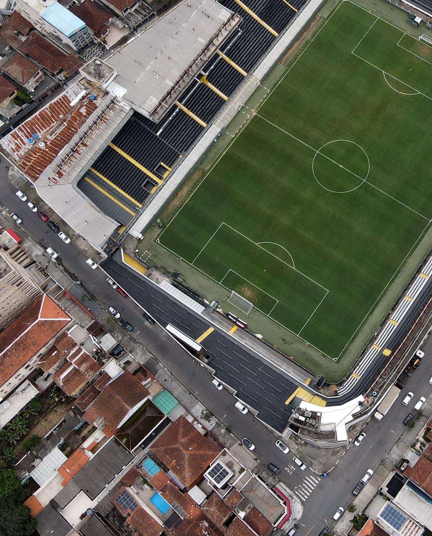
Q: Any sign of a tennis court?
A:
No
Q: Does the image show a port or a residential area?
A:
residential area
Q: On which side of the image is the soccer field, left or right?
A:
right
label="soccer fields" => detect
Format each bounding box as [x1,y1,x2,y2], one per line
[137,0,432,381]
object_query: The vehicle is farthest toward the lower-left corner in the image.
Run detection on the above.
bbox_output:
[110,343,125,358]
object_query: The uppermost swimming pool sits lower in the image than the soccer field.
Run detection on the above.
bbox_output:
[141,458,163,478]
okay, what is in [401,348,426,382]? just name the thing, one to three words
truck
